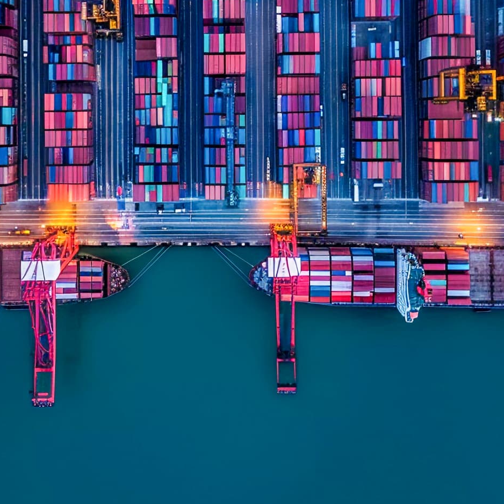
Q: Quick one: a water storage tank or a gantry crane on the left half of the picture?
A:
gantry crane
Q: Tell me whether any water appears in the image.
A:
Yes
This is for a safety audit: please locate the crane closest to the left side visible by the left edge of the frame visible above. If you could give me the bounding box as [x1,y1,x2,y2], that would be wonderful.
[19,226,79,411]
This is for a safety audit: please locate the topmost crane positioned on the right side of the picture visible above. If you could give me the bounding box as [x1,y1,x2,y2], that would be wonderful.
[433,68,499,110]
